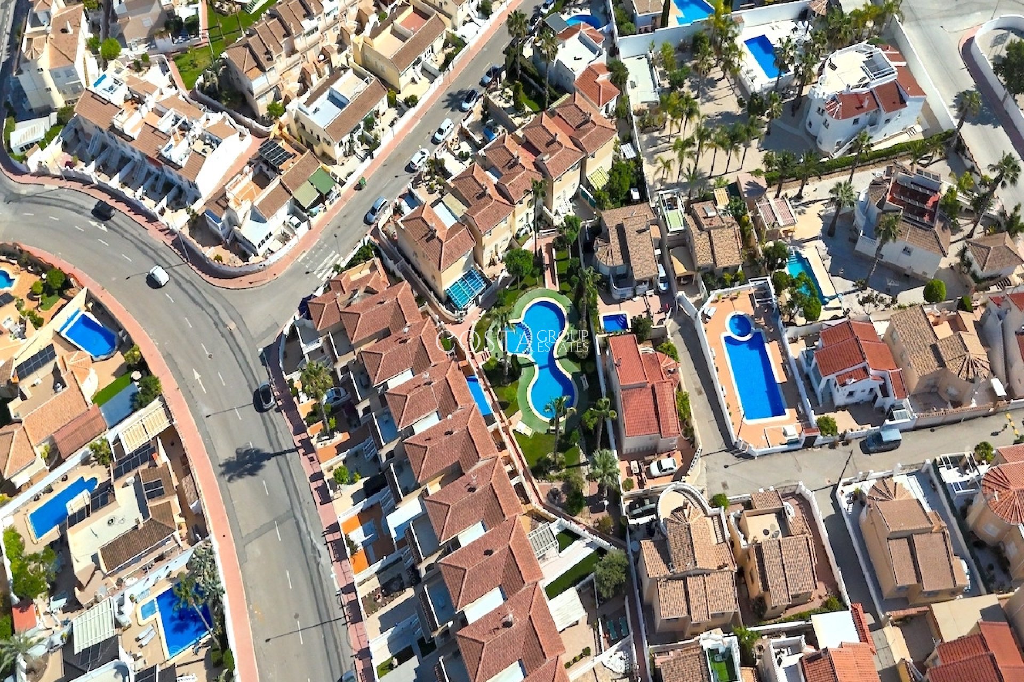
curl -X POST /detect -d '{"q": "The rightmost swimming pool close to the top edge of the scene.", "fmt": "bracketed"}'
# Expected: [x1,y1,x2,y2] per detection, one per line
[740,30,795,81]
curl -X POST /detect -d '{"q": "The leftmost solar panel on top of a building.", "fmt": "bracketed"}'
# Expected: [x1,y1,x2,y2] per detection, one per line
[15,344,57,379]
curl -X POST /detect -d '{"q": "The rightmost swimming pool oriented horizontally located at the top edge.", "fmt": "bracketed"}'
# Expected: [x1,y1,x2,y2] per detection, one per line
[672,0,718,21]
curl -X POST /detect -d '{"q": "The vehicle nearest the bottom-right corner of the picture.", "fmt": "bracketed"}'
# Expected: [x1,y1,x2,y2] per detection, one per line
[864,424,906,450]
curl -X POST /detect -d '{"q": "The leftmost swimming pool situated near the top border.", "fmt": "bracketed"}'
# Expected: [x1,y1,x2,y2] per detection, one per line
[563,12,602,30]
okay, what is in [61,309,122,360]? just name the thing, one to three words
swimming pool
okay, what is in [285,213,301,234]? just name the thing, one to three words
car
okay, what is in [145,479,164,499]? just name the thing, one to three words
solar panel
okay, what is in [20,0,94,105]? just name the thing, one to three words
house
